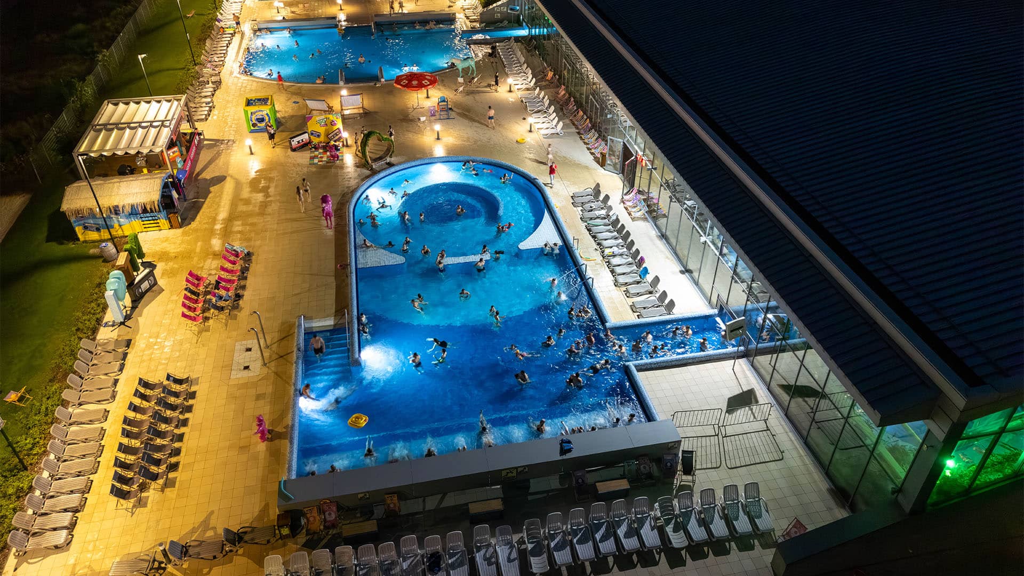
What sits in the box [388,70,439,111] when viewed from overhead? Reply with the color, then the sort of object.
red umbrella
